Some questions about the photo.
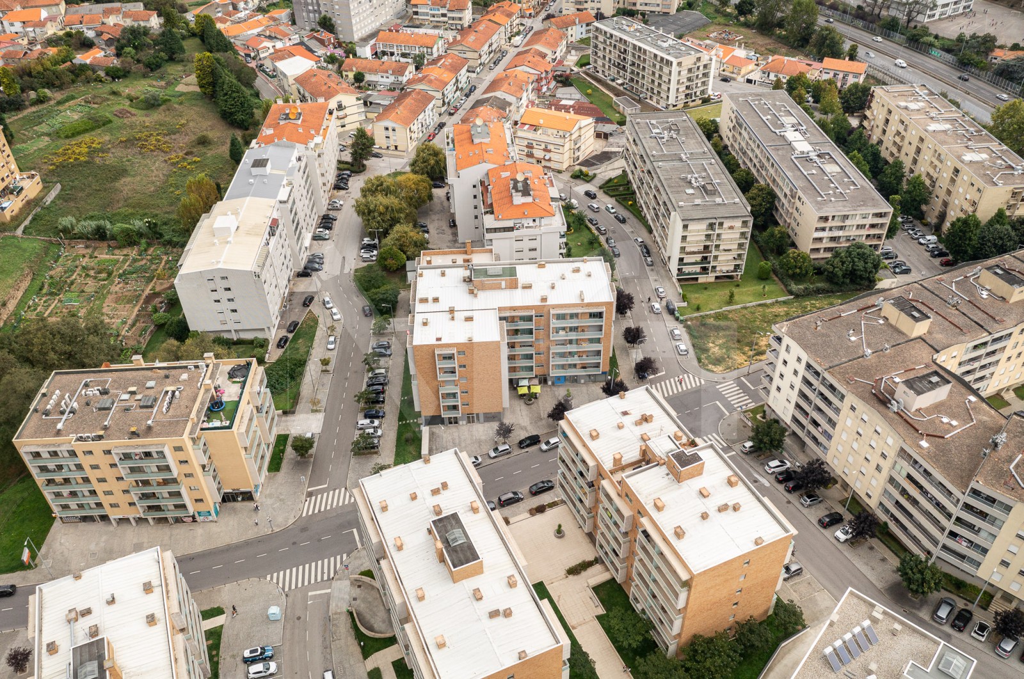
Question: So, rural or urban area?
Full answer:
This place is urban.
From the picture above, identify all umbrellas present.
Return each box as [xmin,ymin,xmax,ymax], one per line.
[518,387,528,400]
[531,386,541,399]
[529,379,539,386]
[519,379,529,387]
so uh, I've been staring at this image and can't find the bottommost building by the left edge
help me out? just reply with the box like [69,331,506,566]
[21,545,210,679]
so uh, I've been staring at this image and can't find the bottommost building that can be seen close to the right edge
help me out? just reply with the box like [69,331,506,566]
[793,588,976,679]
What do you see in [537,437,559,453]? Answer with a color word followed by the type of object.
gray car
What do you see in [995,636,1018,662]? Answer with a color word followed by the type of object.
gray car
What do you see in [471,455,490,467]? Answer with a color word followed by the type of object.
gray vehicle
